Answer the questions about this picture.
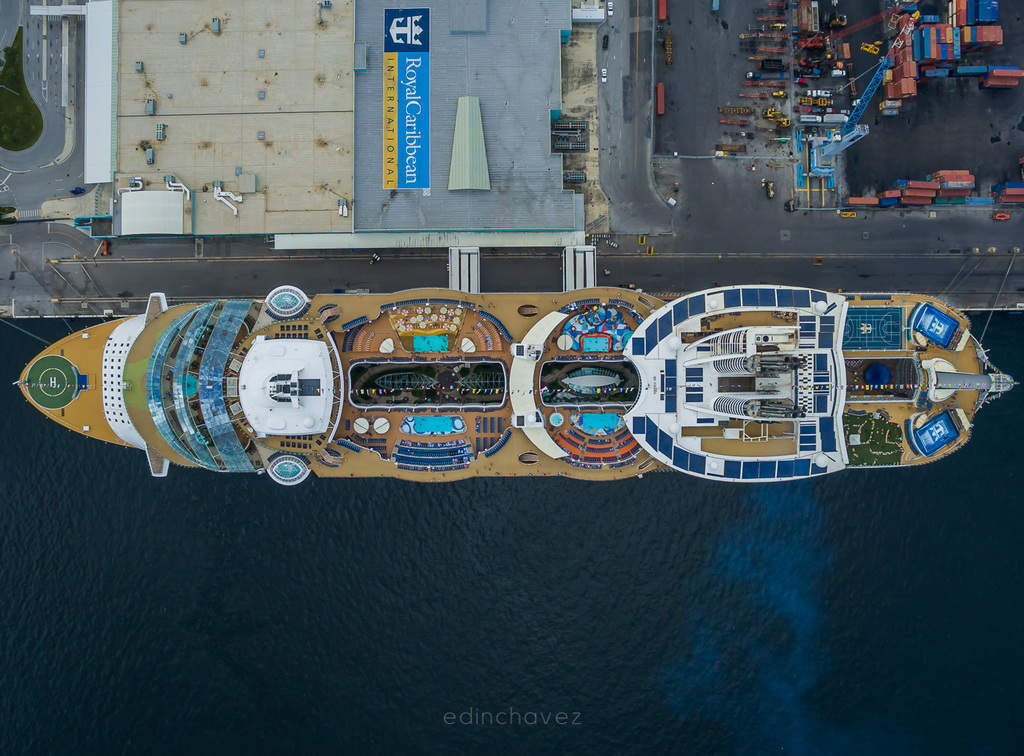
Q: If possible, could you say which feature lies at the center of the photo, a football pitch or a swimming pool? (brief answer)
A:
swimming pool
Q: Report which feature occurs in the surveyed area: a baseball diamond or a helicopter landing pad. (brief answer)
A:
helicopter landing pad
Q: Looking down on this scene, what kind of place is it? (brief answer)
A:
port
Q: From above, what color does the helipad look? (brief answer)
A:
green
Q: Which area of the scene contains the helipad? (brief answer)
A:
left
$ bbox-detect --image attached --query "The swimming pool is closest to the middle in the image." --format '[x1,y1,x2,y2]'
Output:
[549,412,563,426]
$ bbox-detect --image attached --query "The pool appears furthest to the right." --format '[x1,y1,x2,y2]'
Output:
[570,411,628,435]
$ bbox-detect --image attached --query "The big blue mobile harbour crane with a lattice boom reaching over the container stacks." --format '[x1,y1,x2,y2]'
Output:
[796,10,921,189]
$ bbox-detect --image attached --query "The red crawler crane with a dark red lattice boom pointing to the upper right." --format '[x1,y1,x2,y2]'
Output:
[799,1,900,50]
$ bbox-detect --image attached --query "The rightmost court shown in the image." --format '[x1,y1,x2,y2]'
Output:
[841,305,918,358]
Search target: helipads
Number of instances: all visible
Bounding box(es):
[26,355,79,409]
